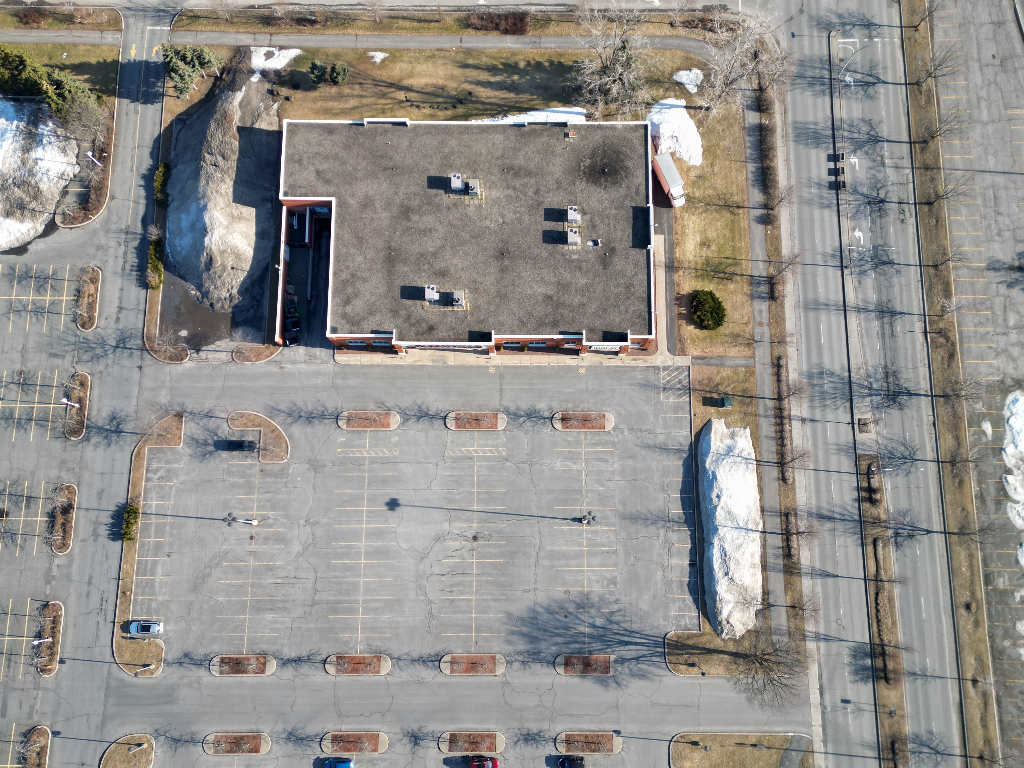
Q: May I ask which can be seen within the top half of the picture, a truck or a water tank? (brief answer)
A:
truck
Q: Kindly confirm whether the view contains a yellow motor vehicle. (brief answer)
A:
No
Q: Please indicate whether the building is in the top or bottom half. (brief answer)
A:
top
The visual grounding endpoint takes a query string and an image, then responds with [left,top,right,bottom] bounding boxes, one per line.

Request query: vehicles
[228,438,259,453]
[652,151,689,211]
[468,757,501,768]
[557,756,587,768]
[129,620,164,637]
[324,758,355,768]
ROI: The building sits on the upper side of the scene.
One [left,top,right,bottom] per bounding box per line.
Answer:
[278,116,660,356]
